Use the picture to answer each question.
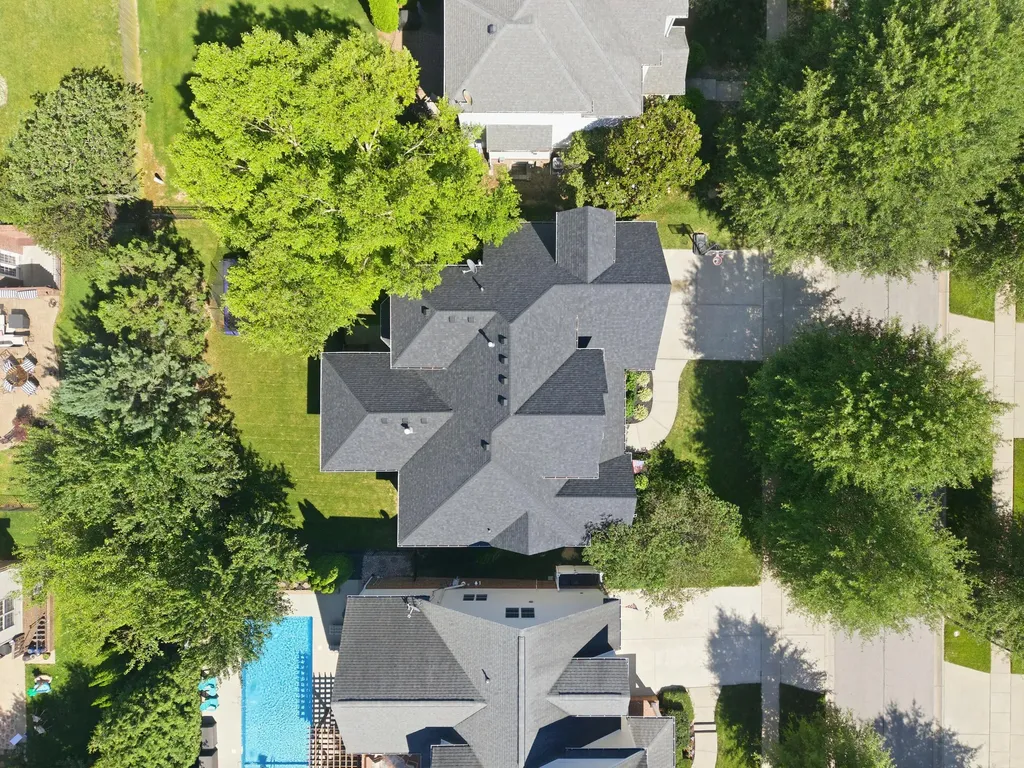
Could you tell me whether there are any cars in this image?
No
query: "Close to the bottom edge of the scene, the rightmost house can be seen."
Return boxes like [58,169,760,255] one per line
[330,574,676,768]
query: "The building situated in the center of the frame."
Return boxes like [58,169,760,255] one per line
[319,205,672,557]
